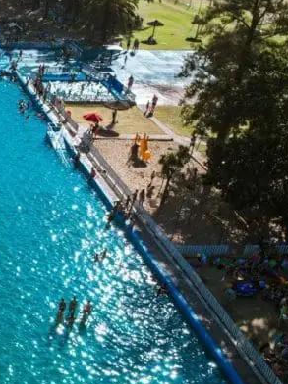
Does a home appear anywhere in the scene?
No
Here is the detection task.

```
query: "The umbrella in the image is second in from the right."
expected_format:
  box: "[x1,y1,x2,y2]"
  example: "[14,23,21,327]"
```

[142,16,170,40]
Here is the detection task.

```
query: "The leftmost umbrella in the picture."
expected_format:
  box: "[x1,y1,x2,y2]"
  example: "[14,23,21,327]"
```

[83,108,115,134]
